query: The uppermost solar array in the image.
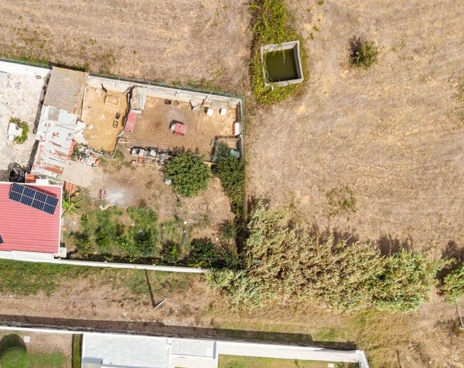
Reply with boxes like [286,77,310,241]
[9,183,58,214]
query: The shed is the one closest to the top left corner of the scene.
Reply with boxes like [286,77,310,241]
[44,67,87,114]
